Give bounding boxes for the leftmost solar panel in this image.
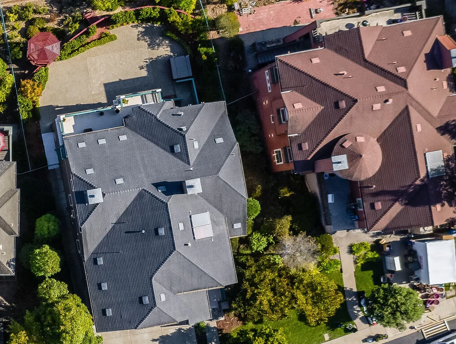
[191,213,215,239]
